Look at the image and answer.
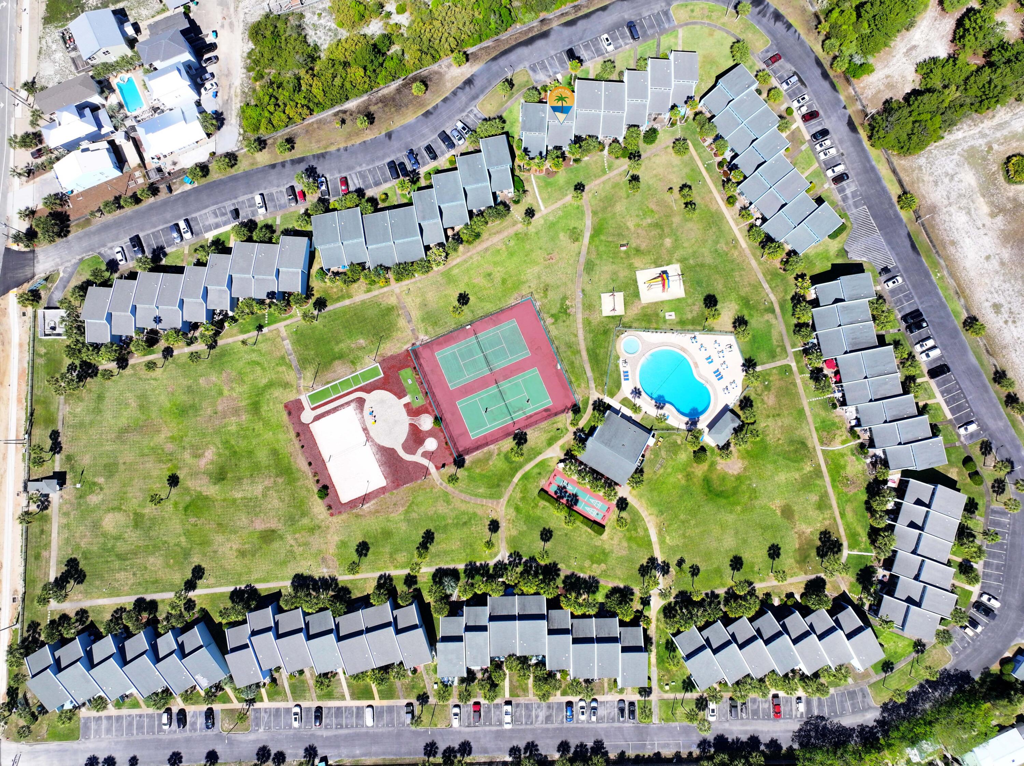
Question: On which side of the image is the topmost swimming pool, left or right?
left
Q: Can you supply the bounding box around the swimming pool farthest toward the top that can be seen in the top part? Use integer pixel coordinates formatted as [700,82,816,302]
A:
[115,75,146,113]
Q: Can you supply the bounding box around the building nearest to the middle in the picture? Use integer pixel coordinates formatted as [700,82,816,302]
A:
[577,410,655,486]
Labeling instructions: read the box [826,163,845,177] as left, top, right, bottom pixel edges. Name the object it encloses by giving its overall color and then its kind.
white car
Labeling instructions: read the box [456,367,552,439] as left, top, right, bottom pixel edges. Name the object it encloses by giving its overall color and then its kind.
green tennis court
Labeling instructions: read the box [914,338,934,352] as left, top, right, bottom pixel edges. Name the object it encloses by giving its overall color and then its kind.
white car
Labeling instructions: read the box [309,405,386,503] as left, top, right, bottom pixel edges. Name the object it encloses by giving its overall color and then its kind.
white sports court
